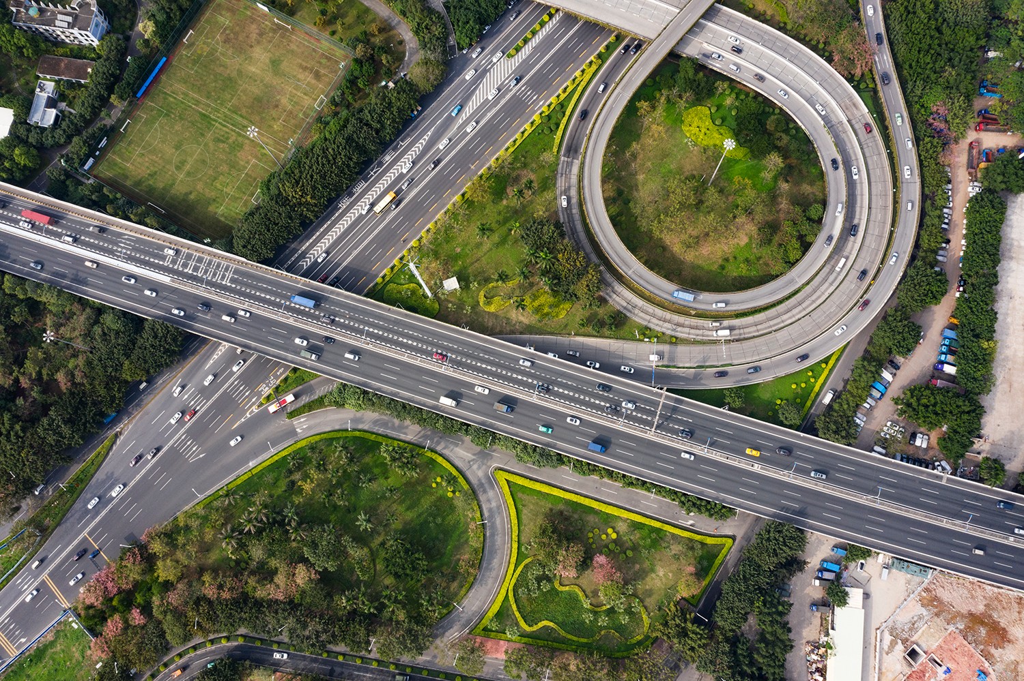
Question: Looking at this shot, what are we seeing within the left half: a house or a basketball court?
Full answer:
Visible within the left half is a house.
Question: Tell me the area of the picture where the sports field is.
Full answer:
The sports field is in the top left part of the image.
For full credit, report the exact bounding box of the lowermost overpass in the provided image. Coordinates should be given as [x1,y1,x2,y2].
[0,182,1024,591]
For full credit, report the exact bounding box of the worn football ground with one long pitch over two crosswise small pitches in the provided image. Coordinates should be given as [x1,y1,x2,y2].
[82,0,351,243]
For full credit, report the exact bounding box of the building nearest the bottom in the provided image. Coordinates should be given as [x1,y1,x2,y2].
[820,606,864,681]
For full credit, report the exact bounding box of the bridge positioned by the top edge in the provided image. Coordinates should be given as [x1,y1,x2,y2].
[487,0,695,54]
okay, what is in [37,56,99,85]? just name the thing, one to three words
house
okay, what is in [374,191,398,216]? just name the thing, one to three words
bus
